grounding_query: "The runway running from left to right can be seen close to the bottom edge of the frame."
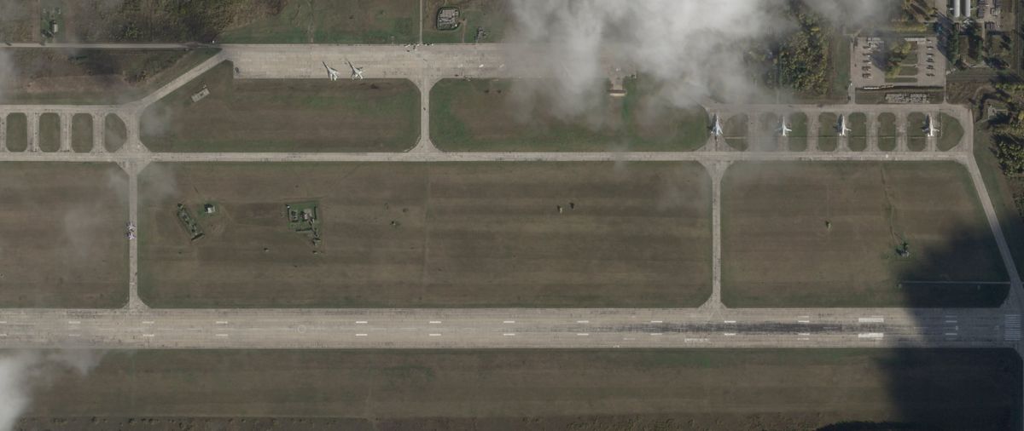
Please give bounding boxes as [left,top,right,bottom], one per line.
[0,297,1024,431]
